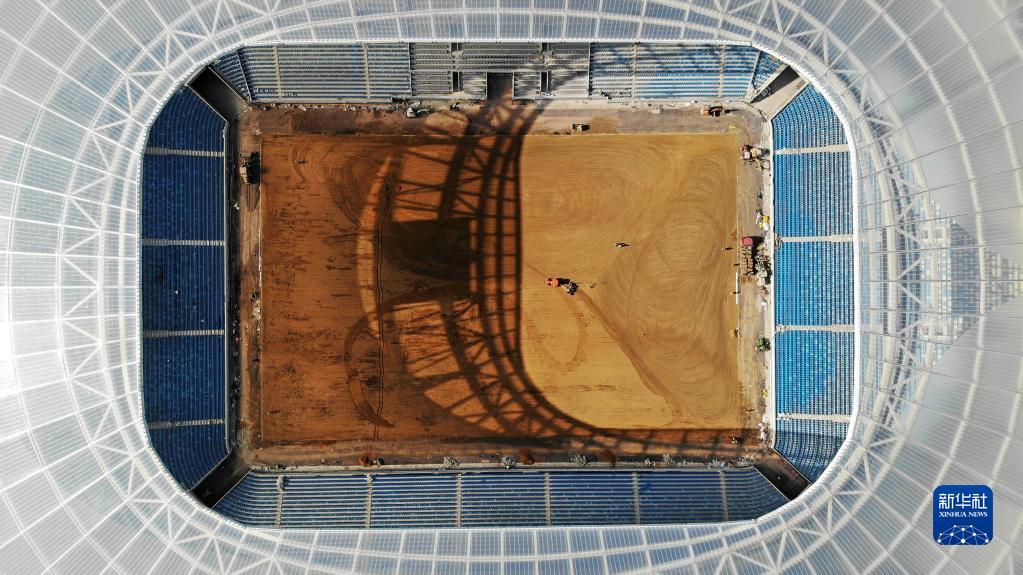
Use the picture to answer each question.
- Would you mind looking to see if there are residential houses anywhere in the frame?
No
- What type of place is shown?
sports ground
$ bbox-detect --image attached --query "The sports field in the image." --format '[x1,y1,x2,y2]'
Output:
[260,134,740,442]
